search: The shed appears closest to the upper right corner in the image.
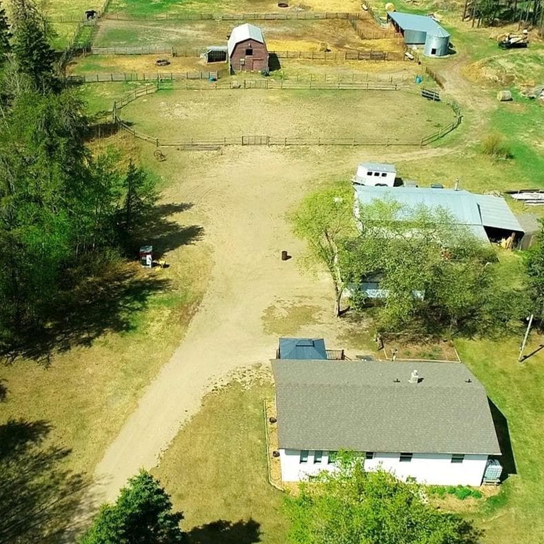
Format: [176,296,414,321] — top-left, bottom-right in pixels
[383,10,446,44]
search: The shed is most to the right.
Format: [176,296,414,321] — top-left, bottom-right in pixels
[517,219,544,252]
